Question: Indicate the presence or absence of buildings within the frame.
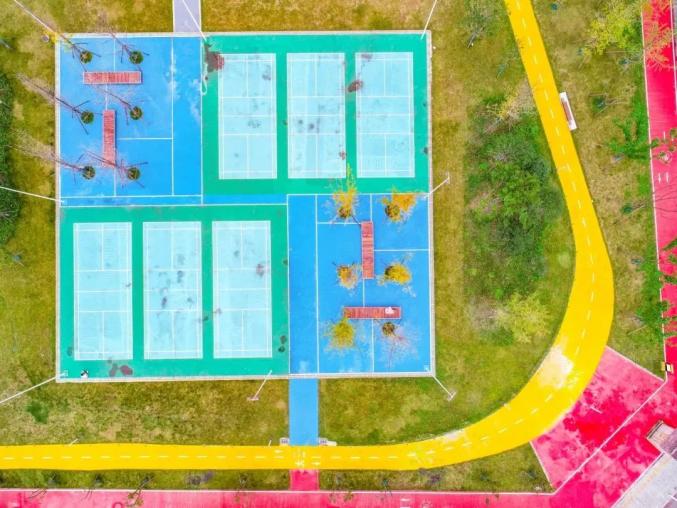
No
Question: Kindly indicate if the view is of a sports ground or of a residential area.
sports ground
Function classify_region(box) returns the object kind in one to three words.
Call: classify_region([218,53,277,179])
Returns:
sports court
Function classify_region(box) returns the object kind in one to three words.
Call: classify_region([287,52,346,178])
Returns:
sports court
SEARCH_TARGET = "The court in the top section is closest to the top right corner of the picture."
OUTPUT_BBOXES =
[355,52,415,177]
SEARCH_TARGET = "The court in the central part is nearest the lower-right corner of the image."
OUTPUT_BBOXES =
[288,193,432,376]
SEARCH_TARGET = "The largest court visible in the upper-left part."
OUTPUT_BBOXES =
[58,34,288,206]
